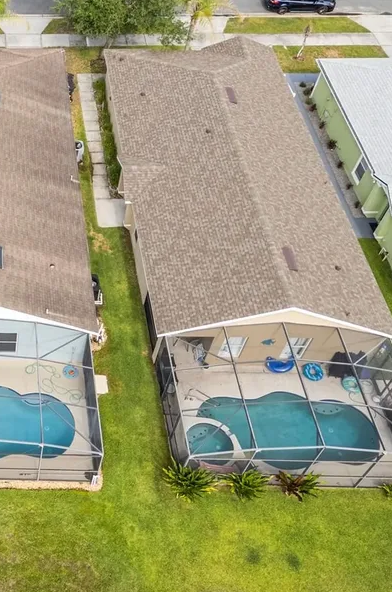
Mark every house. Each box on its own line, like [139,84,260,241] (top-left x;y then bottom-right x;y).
[313,57,392,274]
[0,48,100,362]
[103,32,392,372]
